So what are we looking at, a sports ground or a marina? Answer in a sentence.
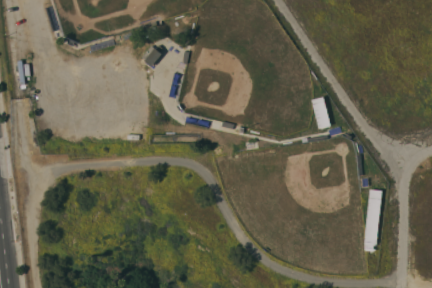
This image shows a sports ground.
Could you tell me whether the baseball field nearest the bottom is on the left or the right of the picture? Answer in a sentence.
The baseball field nearest the bottom sits on the right side.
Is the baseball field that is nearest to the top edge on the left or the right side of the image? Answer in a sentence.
The baseball field that is nearest to the top edge is on the left side of the image.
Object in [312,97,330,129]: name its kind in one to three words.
shed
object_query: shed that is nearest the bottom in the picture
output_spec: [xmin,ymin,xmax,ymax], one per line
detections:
[364,190,382,250]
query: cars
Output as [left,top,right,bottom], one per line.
[8,6,18,12]
[16,18,26,26]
